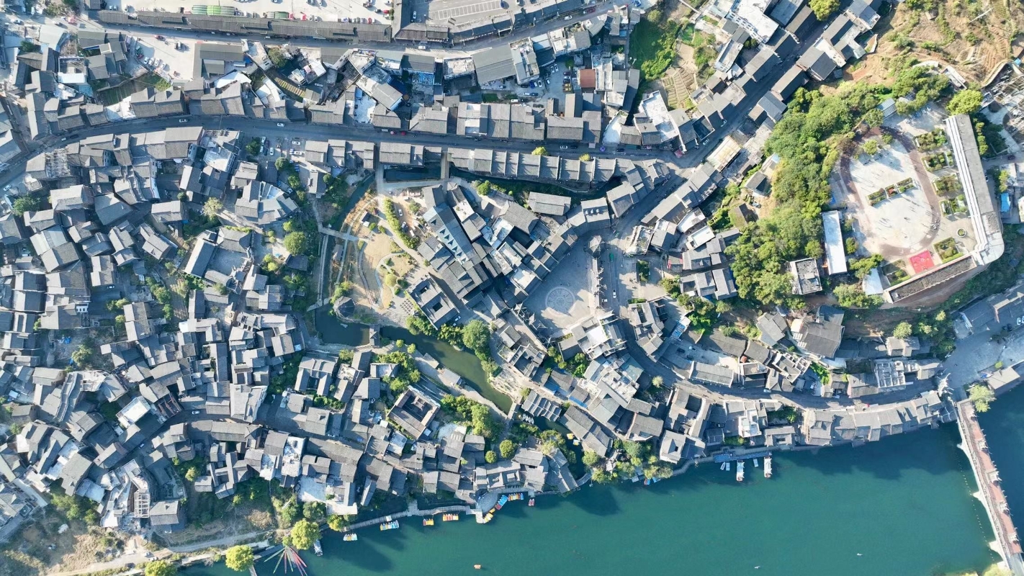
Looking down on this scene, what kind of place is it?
residential area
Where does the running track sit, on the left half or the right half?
right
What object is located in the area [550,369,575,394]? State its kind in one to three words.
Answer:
house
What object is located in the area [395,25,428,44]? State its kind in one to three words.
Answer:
building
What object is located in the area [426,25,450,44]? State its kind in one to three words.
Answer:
building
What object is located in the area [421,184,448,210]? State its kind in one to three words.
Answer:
house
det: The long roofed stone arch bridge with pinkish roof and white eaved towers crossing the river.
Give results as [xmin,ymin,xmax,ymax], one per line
[954,387,1021,569]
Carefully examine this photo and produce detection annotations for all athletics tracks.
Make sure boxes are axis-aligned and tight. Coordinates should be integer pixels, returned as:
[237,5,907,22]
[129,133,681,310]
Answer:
[841,127,939,255]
